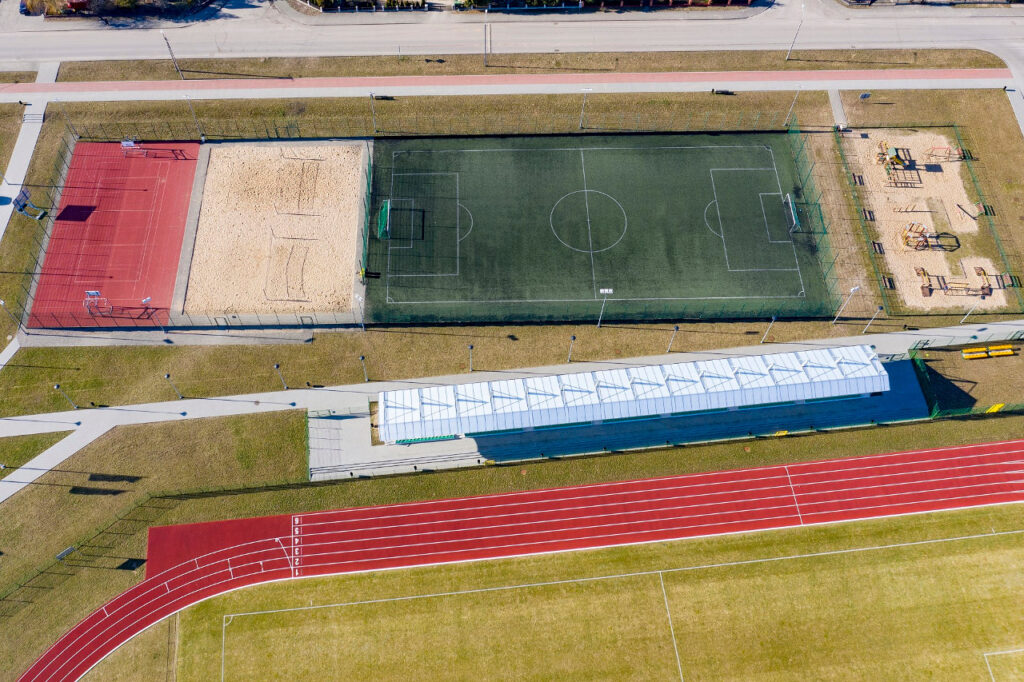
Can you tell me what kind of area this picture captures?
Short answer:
sports ground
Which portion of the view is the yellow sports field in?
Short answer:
bottom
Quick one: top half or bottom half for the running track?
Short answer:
bottom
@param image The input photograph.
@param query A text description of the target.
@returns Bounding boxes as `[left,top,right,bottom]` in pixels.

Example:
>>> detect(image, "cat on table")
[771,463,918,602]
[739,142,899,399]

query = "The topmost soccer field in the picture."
[364,131,834,321]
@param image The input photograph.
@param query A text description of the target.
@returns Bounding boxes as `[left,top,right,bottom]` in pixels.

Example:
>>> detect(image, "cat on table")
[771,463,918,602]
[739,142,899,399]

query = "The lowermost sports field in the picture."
[177,504,1024,682]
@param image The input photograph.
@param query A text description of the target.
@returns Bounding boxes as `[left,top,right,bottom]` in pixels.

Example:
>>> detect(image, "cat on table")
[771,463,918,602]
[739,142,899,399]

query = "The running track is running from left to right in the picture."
[14,439,1024,682]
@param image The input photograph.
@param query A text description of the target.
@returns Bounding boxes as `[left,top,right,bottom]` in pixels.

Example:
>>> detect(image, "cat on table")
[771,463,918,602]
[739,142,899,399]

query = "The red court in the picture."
[28,142,200,326]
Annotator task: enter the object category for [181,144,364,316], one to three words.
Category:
sports court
